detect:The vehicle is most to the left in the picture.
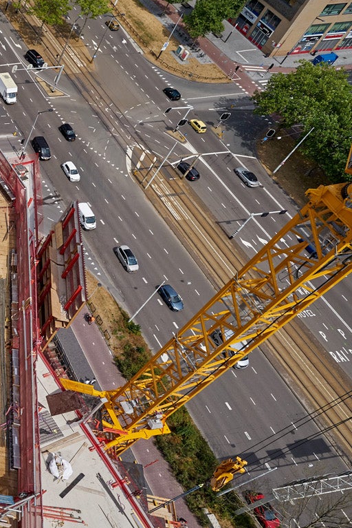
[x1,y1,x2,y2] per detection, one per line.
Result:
[0,71,20,109]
